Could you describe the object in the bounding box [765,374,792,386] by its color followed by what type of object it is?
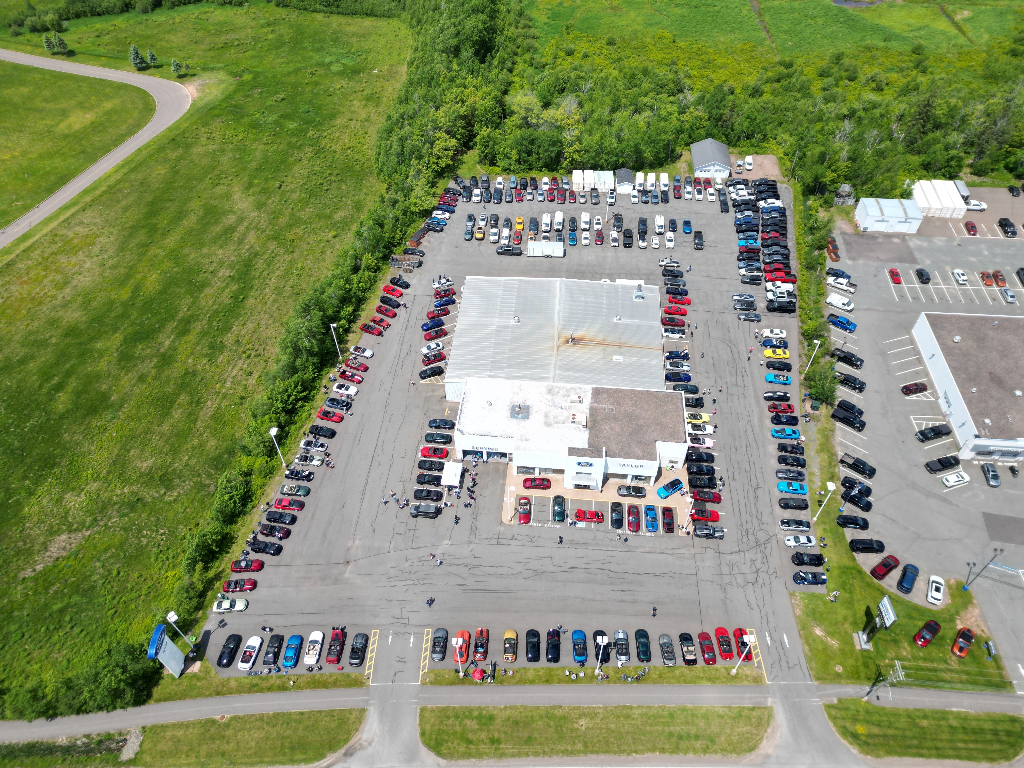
blue vehicle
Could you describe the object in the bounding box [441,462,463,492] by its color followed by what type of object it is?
white tent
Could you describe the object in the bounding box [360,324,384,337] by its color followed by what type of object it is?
red vehicle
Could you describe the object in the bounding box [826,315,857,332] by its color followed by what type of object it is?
blue vehicle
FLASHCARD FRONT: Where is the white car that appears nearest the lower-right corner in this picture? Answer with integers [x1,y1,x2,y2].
[926,575,945,604]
